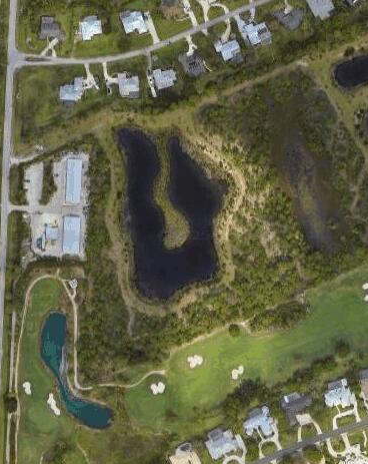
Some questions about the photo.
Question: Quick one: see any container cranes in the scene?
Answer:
No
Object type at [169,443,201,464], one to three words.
house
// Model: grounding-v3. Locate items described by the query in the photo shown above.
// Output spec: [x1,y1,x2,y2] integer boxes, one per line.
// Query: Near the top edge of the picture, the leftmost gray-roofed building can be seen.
[41,16,64,40]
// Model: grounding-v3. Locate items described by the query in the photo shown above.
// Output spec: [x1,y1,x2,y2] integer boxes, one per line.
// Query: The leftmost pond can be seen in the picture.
[41,313,112,427]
